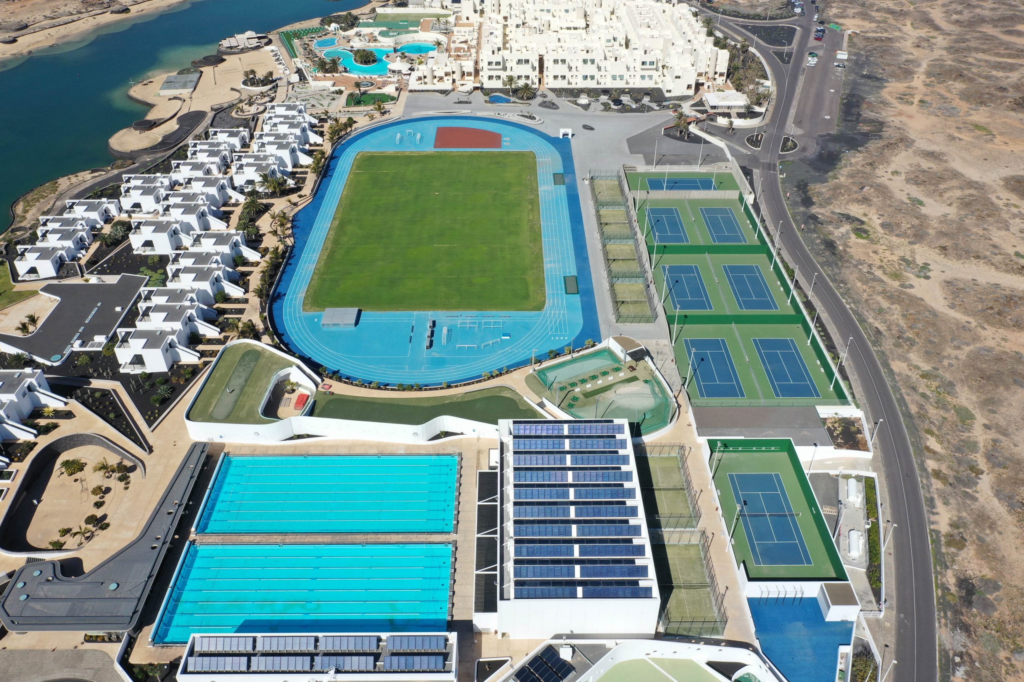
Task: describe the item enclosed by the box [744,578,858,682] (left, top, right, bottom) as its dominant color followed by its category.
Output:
blue sports court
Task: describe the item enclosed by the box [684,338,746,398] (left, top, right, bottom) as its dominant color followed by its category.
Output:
blue tennis court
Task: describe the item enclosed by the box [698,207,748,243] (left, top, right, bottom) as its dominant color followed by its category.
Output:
blue tennis court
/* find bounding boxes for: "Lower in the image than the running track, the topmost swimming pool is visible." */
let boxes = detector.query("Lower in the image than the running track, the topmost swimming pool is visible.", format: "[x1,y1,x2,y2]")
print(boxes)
[188,449,463,536]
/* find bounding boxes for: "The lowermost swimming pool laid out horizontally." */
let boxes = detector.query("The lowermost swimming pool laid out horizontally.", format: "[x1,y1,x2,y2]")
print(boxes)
[144,538,457,646]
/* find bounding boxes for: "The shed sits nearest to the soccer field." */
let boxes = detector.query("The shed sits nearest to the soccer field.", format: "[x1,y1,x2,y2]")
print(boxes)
[320,307,364,327]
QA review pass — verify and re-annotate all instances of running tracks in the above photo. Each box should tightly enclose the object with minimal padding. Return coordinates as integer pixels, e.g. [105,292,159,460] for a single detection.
[273,116,601,387]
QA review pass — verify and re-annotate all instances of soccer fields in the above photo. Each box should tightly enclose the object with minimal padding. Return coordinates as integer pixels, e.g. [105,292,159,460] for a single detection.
[303,151,544,311]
